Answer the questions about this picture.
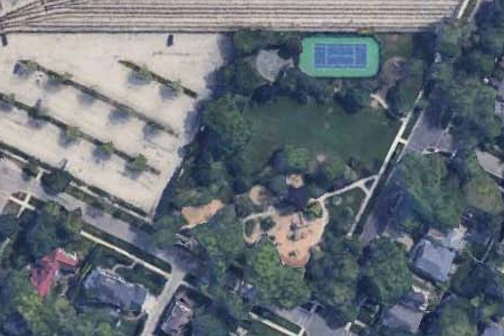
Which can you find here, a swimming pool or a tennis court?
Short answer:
tennis court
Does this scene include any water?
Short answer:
No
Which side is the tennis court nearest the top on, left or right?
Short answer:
right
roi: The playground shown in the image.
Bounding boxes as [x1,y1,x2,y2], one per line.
[273,213,324,266]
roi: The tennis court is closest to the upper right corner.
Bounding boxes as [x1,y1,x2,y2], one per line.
[300,35,382,78]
